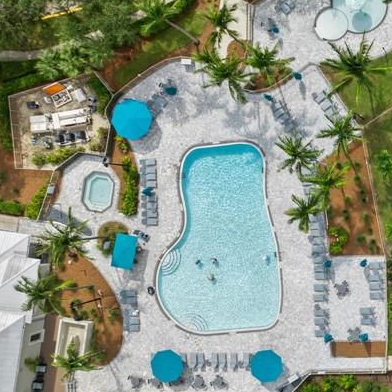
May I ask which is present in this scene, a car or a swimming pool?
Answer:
swimming pool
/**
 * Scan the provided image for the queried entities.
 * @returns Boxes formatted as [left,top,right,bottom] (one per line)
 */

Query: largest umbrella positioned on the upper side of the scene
[112,99,152,139]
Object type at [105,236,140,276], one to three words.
umbrella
